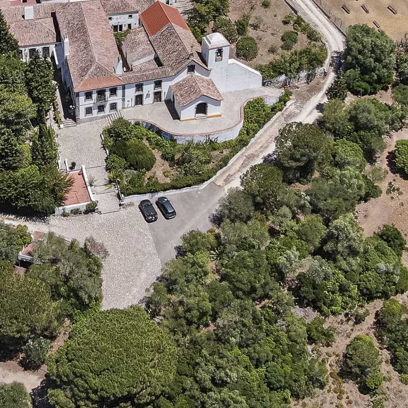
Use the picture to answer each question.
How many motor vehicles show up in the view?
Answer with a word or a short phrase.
2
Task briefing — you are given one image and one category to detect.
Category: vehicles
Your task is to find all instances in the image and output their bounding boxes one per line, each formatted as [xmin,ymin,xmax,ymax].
[156,195,177,216]
[139,200,158,220]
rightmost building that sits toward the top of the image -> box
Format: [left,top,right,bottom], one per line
[199,31,231,93]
